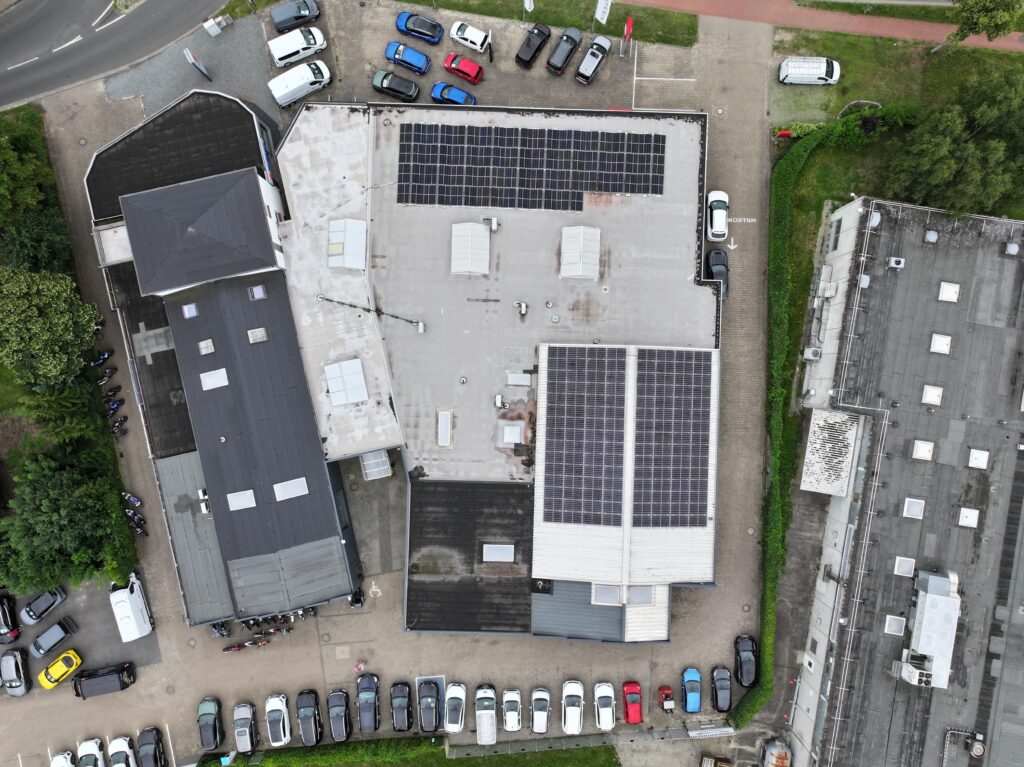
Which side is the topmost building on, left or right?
left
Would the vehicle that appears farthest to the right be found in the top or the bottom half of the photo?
top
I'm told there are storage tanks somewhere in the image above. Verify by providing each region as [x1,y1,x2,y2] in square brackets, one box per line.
[759,733,793,767]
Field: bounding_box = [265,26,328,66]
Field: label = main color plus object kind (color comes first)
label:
white vehicle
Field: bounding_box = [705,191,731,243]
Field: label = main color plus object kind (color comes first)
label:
white car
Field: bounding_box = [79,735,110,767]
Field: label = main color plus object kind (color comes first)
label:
white car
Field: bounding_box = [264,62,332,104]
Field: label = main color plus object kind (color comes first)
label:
white vehicle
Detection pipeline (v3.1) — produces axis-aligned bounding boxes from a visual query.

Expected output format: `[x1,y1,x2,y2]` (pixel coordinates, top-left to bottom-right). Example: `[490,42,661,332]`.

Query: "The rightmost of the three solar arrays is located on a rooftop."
[633,349,712,527]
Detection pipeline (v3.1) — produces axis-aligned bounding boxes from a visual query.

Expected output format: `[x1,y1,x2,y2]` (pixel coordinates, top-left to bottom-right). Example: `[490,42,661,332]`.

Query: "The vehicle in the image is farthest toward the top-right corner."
[778,54,838,85]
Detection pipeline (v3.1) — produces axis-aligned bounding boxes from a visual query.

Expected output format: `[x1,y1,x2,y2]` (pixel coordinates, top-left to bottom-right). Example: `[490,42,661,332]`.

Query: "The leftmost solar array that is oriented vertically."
[544,347,626,525]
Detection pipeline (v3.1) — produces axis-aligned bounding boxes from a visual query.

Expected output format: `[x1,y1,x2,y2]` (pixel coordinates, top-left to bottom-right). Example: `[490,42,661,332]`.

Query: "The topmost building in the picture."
[85,90,288,226]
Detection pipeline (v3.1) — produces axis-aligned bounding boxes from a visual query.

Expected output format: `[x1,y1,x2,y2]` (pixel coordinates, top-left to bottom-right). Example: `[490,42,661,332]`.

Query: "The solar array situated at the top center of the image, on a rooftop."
[397,121,665,213]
